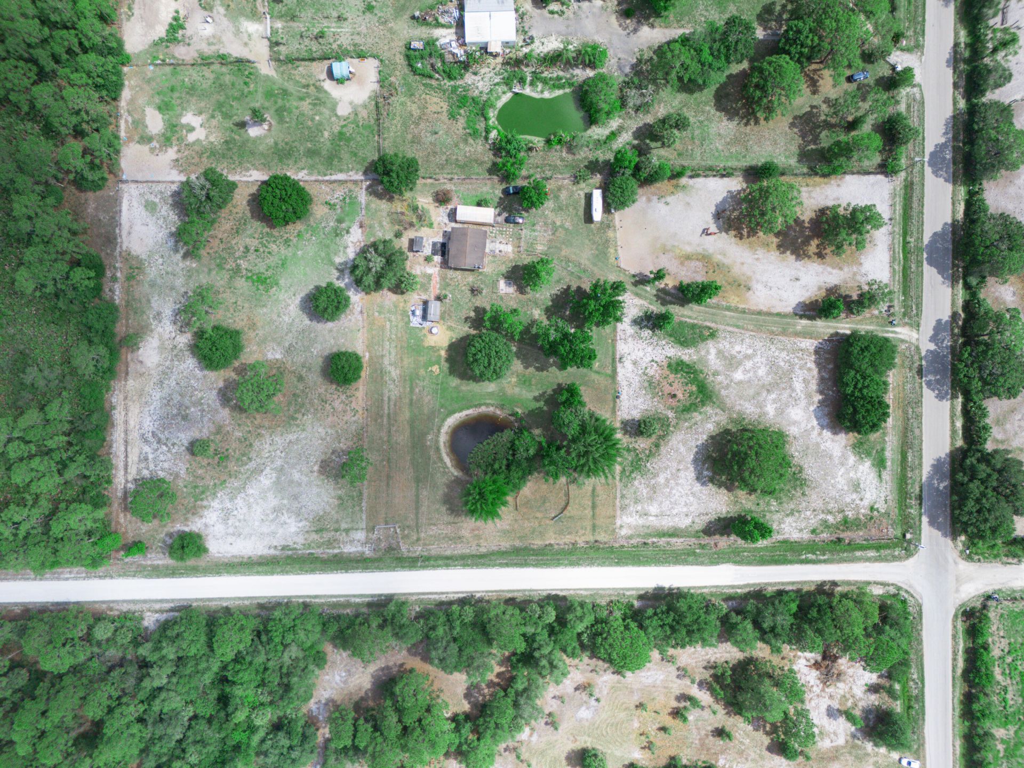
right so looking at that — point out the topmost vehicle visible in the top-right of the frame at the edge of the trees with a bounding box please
[848,70,869,84]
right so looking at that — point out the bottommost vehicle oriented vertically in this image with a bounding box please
[591,190,603,228]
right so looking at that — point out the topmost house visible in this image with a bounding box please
[465,0,516,56]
